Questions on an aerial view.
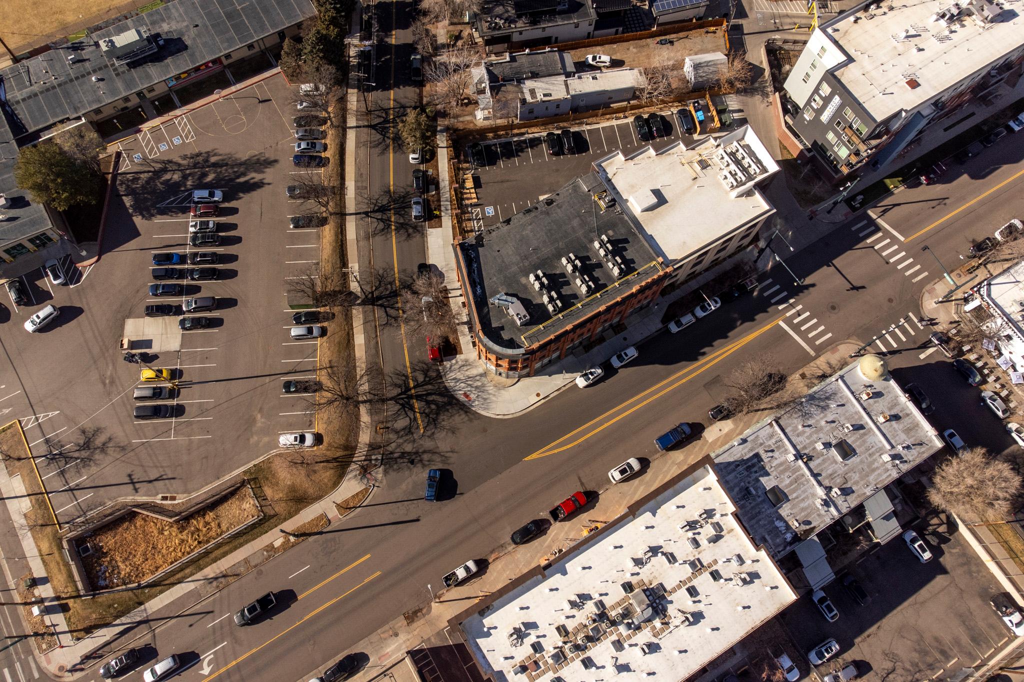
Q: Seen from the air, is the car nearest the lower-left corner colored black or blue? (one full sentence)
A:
The car nearest the lower-left corner is black.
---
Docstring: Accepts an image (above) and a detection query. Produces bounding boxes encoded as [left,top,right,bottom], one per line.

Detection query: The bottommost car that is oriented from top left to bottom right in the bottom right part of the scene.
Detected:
[771,648,804,682]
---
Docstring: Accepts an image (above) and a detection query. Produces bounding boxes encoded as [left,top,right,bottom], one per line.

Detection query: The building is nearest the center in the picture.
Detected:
[448,171,675,385]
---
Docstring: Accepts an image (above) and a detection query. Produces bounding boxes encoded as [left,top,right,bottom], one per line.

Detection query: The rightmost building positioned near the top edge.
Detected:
[785,0,1024,177]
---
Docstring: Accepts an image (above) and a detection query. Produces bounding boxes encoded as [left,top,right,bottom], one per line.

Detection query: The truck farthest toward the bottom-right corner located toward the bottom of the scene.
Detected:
[987,590,1024,634]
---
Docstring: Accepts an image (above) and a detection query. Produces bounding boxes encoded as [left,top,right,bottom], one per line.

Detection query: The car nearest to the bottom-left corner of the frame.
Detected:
[99,647,140,682]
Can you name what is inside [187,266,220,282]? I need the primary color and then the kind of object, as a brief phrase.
black car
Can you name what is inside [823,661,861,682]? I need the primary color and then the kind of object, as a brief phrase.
gray car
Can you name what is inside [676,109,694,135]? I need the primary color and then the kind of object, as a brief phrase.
black car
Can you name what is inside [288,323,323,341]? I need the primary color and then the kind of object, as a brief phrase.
gray car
